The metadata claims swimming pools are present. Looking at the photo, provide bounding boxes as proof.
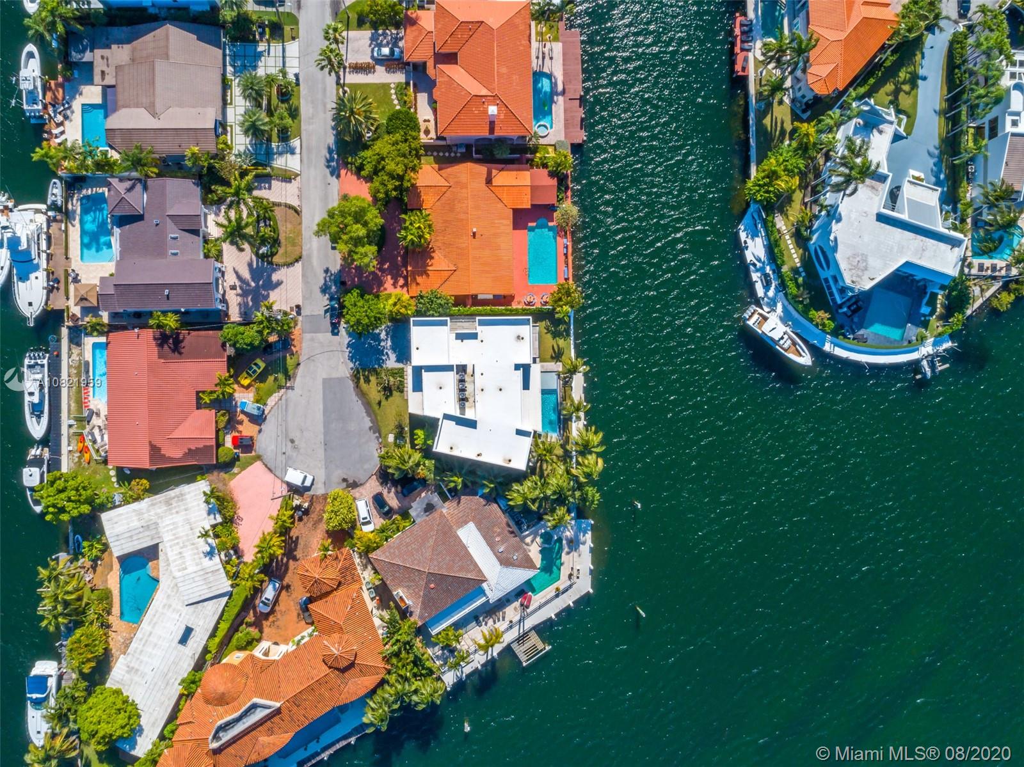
[77,190,116,265]
[864,285,913,342]
[532,69,555,137]
[526,216,559,286]
[539,369,561,437]
[79,101,113,152]
[520,531,564,597]
[759,0,786,41]
[118,553,160,626]
[89,340,108,406]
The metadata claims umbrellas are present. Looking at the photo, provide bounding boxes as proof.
[74,284,98,307]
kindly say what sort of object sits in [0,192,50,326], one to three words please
boat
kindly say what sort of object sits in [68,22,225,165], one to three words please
house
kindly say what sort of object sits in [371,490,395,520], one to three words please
car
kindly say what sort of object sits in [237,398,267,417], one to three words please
car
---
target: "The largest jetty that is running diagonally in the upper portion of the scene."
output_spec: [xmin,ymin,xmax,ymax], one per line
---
[736,204,952,364]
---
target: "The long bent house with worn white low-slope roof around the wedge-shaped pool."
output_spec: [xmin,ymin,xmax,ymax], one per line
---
[102,480,231,755]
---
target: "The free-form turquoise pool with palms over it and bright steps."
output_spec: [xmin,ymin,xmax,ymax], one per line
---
[969,222,1024,262]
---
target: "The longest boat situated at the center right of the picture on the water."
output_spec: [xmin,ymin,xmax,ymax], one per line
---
[740,303,809,362]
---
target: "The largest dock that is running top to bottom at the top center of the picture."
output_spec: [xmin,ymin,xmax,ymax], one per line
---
[559,11,584,145]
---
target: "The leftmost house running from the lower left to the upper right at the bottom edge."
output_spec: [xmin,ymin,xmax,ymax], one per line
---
[157,547,385,767]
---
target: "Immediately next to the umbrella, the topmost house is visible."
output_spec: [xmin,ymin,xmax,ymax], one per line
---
[97,178,225,311]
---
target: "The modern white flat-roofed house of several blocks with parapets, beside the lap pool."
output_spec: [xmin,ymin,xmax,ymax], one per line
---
[404,317,541,470]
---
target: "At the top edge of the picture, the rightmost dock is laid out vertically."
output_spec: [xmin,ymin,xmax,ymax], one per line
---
[734,16,749,76]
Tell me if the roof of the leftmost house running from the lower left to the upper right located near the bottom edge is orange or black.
orange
